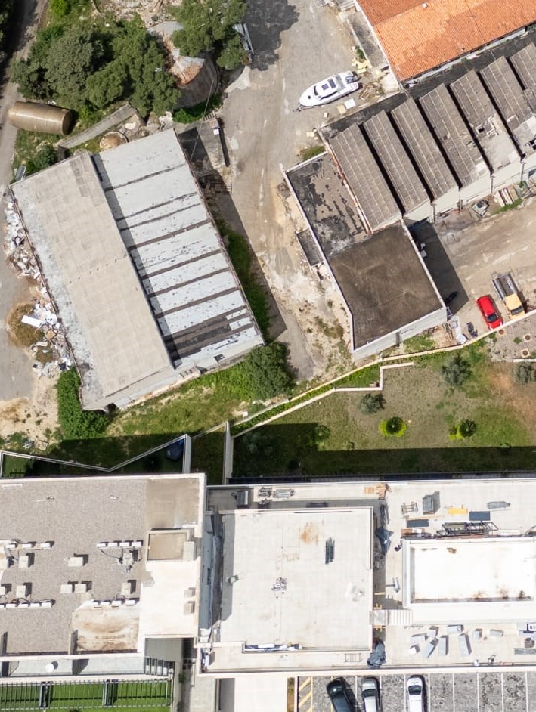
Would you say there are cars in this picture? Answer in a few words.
Yes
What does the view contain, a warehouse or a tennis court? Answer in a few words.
warehouse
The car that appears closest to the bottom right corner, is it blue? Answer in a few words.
No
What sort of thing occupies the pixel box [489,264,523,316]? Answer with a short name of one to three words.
truck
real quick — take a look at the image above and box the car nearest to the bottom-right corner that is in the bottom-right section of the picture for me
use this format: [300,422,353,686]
[405,675,425,712]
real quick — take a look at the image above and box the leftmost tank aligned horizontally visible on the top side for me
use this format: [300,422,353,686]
[11,103,73,135]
